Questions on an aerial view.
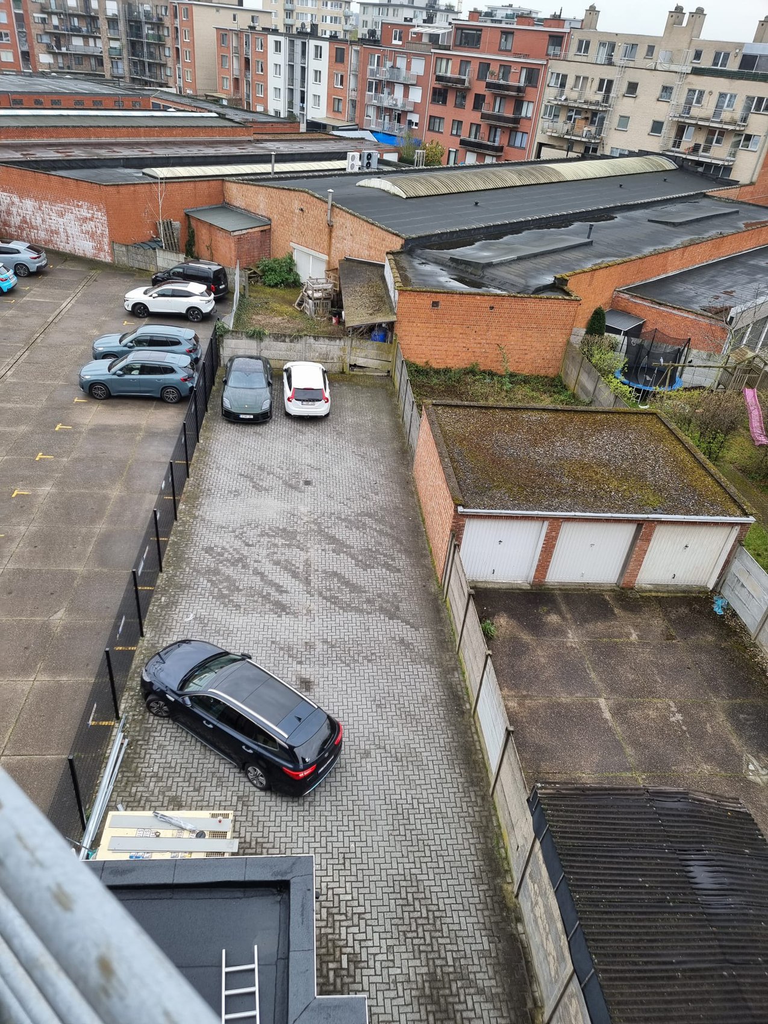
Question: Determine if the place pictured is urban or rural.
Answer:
urban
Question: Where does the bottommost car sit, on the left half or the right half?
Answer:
left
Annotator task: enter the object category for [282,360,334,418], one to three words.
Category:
car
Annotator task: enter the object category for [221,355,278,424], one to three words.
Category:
car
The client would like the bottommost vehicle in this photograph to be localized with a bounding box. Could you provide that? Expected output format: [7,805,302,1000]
[139,640,347,800]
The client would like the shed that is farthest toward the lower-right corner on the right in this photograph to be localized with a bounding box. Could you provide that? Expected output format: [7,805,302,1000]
[521,777,768,1024]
